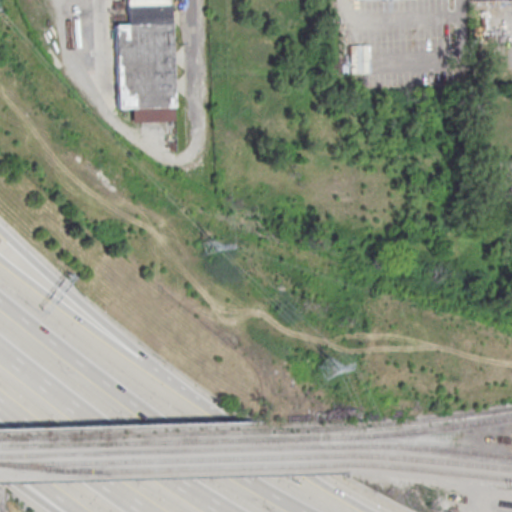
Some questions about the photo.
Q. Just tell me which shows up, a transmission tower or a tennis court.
transmission tower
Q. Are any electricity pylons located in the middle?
Yes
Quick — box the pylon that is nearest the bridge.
[322,358,362,380]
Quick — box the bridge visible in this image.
[0,410,356,485]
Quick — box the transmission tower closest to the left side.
[202,237,238,258]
